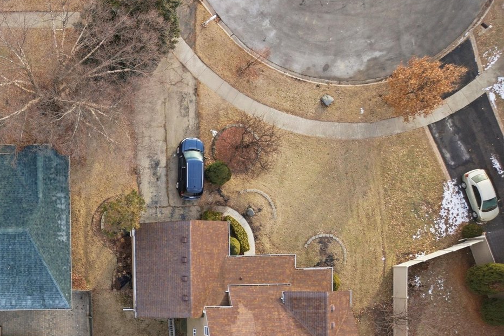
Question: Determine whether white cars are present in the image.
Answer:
Yes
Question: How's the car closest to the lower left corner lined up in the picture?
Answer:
vertically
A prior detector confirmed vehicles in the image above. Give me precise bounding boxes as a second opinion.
[177,138,209,199]
[463,166,503,225]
